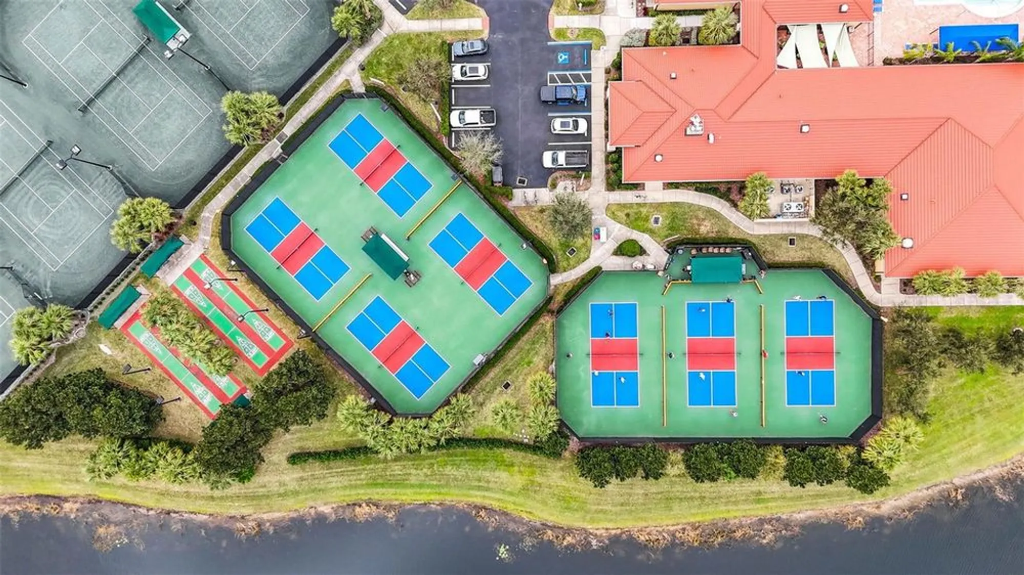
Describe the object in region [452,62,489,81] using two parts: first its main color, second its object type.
white car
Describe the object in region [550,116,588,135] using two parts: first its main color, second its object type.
white car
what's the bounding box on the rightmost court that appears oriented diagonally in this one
[428,212,534,316]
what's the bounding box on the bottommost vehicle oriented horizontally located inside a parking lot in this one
[541,149,589,168]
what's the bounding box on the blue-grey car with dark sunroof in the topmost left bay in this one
[451,38,488,58]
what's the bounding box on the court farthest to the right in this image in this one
[779,300,844,407]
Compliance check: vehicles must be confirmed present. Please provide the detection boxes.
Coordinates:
[541,83,587,104]
[452,62,489,81]
[550,116,588,135]
[451,38,488,58]
[492,167,502,186]
[541,149,589,168]
[450,108,496,128]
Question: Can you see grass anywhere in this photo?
Yes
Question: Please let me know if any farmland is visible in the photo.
No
